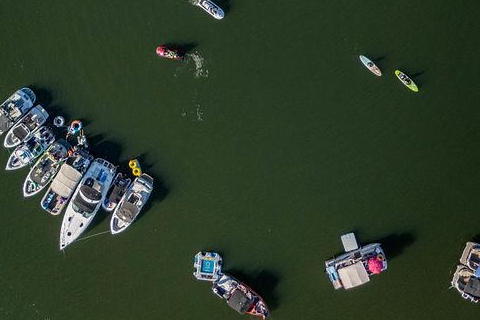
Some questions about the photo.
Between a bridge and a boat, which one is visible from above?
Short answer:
boat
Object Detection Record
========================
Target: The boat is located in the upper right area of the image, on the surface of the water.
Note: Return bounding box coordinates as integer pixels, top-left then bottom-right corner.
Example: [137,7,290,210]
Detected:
[395,70,418,92]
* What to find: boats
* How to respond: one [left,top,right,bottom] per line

[4,101,52,147]
[108,172,159,237]
[6,124,61,172]
[395,70,418,92]
[105,169,135,208]
[323,242,391,295]
[23,138,76,198]
[156,47,187,60]
[59,155,120,254]
[444,263,480,308]
[39,146,95,217]
[210,266,268,320]
[197,0,225,18]
[0,85,39,134]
